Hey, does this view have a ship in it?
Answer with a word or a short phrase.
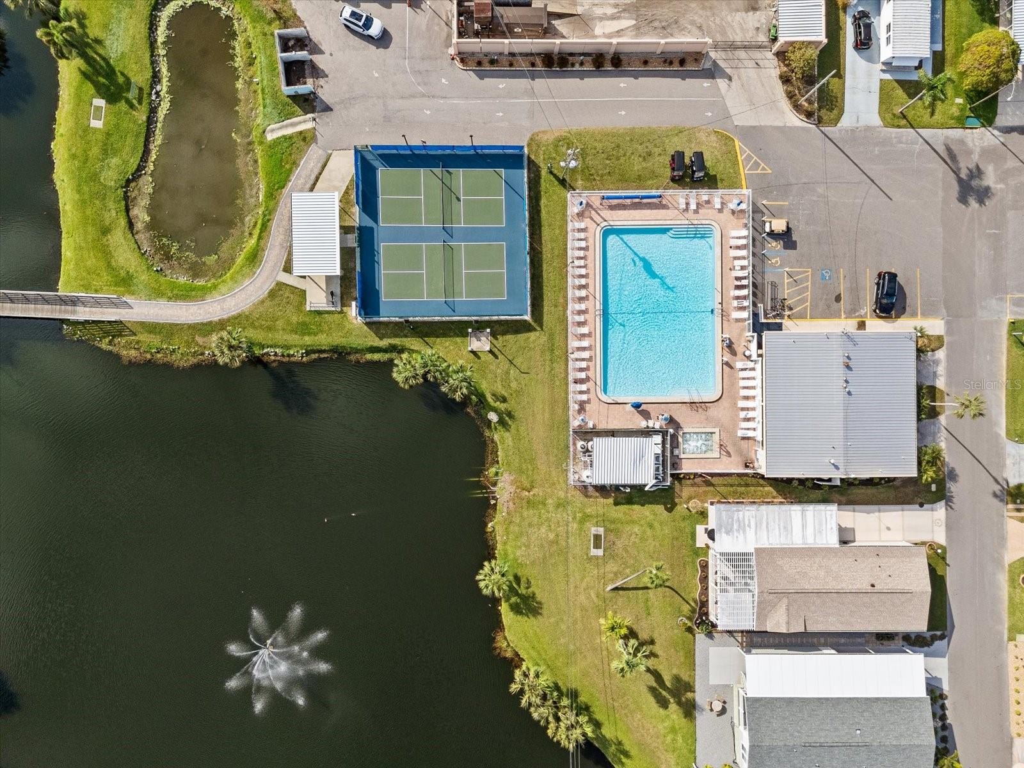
No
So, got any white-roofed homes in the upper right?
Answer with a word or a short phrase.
Yes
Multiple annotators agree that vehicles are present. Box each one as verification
[689,150,708,182]
[338,3,384,38]
[671,150,688,180]
[763,216,791,232]
[853,8,877,49]
[876,271,903,317]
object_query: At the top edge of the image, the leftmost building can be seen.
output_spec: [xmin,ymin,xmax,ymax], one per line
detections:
[765,0,827,56]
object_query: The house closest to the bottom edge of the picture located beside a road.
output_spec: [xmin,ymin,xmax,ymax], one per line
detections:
[730,651,935,768]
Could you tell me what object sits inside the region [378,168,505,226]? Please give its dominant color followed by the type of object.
green sports court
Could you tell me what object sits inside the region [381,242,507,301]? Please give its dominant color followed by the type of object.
green sports court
